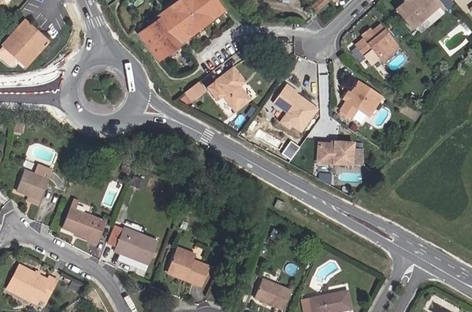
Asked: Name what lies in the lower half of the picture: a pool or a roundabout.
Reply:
pool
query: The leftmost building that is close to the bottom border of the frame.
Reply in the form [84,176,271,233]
[4,264,57,308]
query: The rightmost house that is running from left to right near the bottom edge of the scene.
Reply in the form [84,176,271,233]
[301,289,354,312]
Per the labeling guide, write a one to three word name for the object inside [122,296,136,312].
vehicle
